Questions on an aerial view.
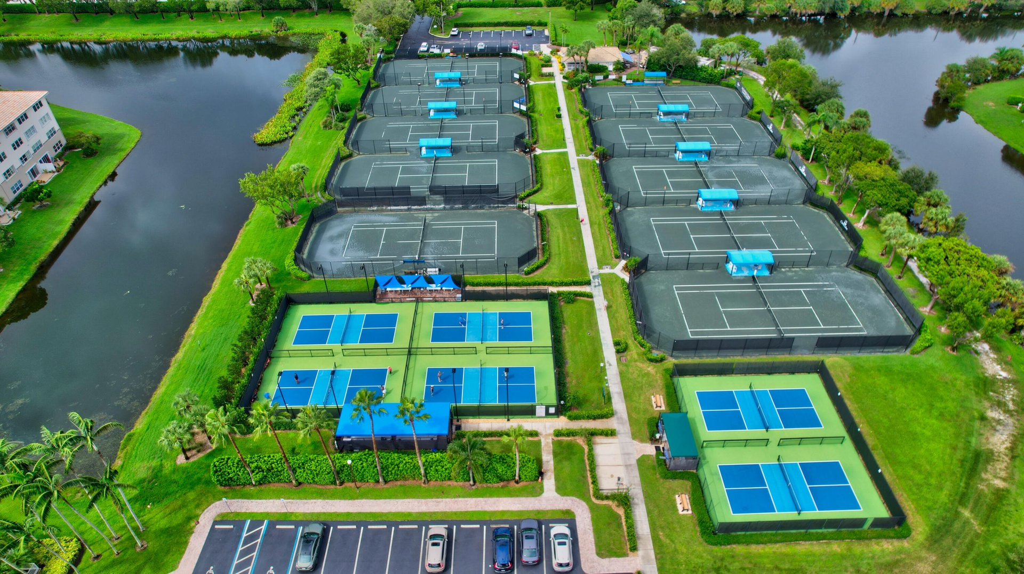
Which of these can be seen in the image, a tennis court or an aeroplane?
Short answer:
tennis court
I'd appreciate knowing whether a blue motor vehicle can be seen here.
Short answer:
Yes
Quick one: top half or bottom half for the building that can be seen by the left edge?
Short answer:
top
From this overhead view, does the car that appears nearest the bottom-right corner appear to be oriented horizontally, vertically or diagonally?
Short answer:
vertically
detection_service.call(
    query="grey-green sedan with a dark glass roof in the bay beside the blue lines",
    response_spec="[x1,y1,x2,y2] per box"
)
[293,524,321,571]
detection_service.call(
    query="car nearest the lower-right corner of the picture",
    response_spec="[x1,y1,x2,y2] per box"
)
[550,528,573,573]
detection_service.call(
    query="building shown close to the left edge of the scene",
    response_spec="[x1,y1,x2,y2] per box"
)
[0,90,66,219]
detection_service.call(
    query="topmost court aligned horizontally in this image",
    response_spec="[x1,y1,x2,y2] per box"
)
[376,57,527,84]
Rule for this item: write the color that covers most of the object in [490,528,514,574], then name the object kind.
blue car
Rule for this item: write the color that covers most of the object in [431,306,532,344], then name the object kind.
blue sports court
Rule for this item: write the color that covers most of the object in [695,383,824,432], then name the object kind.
blue sports court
